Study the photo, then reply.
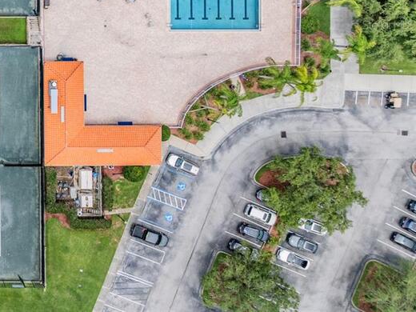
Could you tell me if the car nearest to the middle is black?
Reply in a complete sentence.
No, the color of the car nearest to the middle is white.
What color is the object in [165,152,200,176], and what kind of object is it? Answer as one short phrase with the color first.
white car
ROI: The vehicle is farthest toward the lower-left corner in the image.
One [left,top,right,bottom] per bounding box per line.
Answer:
[129,224,168,247]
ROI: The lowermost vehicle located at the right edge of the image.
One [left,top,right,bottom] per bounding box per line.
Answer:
[385,231,416,254]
